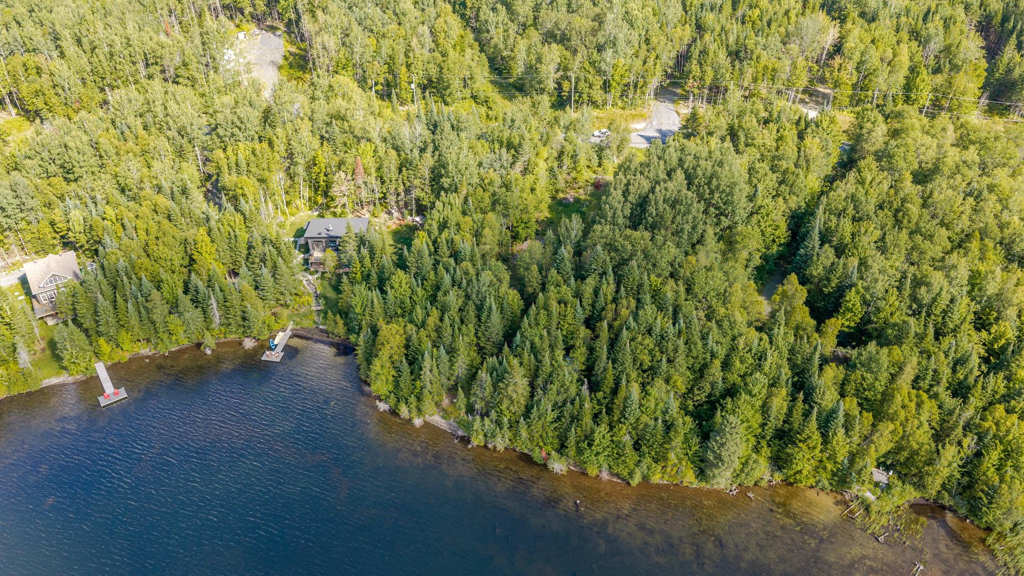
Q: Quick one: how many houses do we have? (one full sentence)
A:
My tally gives 2 houses in this view.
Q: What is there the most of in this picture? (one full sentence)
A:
Most of the picture is covered by trees.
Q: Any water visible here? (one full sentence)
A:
Yes, the picture does contain water.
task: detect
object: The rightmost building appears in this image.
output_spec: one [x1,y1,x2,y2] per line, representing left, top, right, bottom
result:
[298,217,370,274]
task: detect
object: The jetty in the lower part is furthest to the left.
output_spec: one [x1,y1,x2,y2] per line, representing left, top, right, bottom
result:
[96,362,129,409]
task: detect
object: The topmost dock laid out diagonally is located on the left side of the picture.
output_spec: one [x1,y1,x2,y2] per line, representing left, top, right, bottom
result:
[260,322,293,363]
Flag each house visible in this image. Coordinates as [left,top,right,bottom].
[22,249,101,328]
[298,217,370,274]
